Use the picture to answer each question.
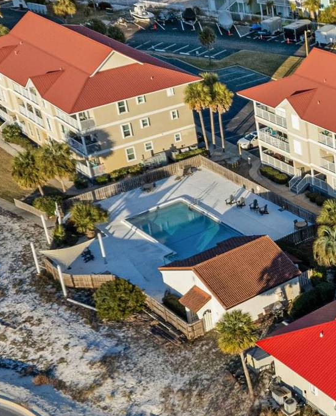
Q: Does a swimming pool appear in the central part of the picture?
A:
Yes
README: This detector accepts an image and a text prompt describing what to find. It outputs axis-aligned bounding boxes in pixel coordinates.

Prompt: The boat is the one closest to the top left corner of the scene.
[123,3,153,22]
